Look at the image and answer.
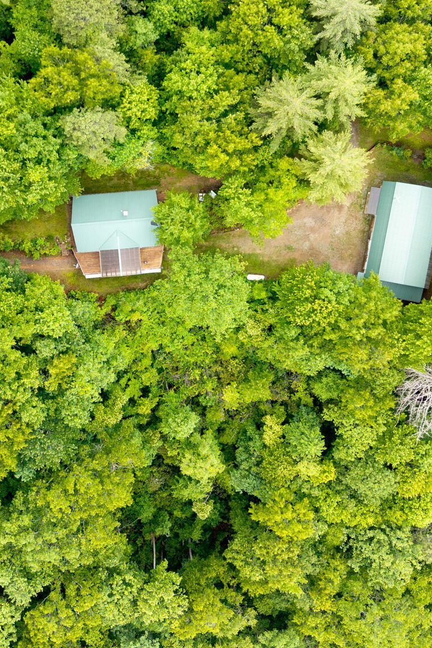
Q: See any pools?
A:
No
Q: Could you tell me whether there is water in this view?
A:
No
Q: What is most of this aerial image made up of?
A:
trees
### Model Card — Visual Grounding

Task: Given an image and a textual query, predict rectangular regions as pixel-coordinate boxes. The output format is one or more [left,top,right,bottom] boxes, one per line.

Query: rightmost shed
[363,181,432,301]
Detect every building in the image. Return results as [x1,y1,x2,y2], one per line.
[363,181,432,301]
[70,189,164,278]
